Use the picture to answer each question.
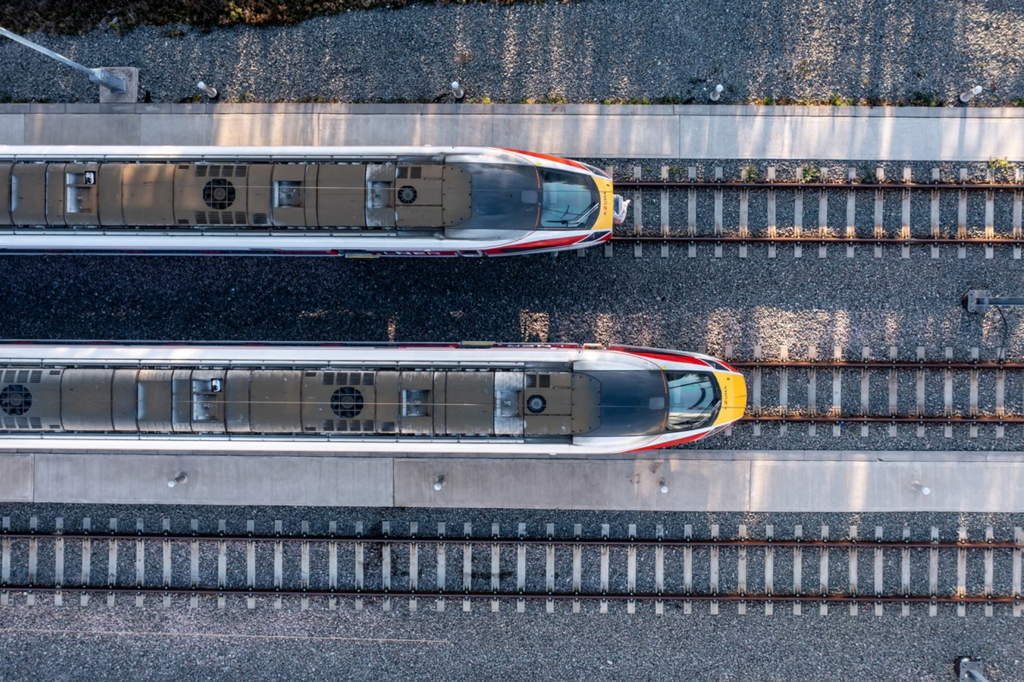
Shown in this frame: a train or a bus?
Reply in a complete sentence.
It is a train that can be seen here.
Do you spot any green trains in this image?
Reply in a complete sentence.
No, the scene contains no green train.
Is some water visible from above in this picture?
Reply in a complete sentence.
No, there's no water in this view.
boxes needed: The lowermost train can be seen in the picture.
[0,339,748,452]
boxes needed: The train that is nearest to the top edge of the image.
[0,146,634,259]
